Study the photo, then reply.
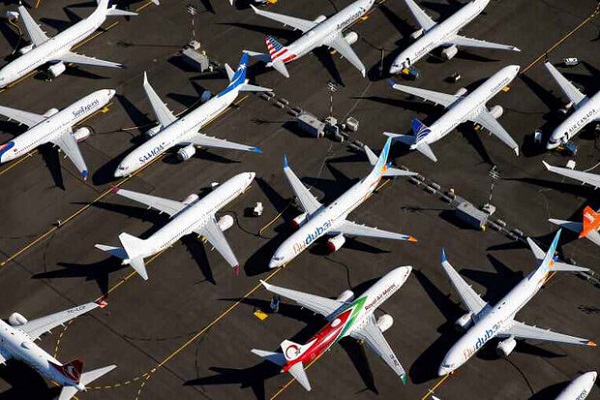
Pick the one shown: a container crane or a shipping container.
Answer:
shipping container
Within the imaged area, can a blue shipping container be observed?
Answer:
No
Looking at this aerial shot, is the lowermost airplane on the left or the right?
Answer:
right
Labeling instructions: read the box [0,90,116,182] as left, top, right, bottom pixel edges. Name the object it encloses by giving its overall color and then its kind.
white airplane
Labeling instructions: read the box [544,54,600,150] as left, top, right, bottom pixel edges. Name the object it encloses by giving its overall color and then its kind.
white airplane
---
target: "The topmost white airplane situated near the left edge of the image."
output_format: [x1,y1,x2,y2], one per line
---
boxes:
[0,0,138,95]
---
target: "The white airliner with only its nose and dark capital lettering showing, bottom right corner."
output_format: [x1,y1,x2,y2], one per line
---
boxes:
[554,372,595,400]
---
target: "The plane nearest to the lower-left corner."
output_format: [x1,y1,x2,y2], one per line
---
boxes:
[0,295,117,400]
